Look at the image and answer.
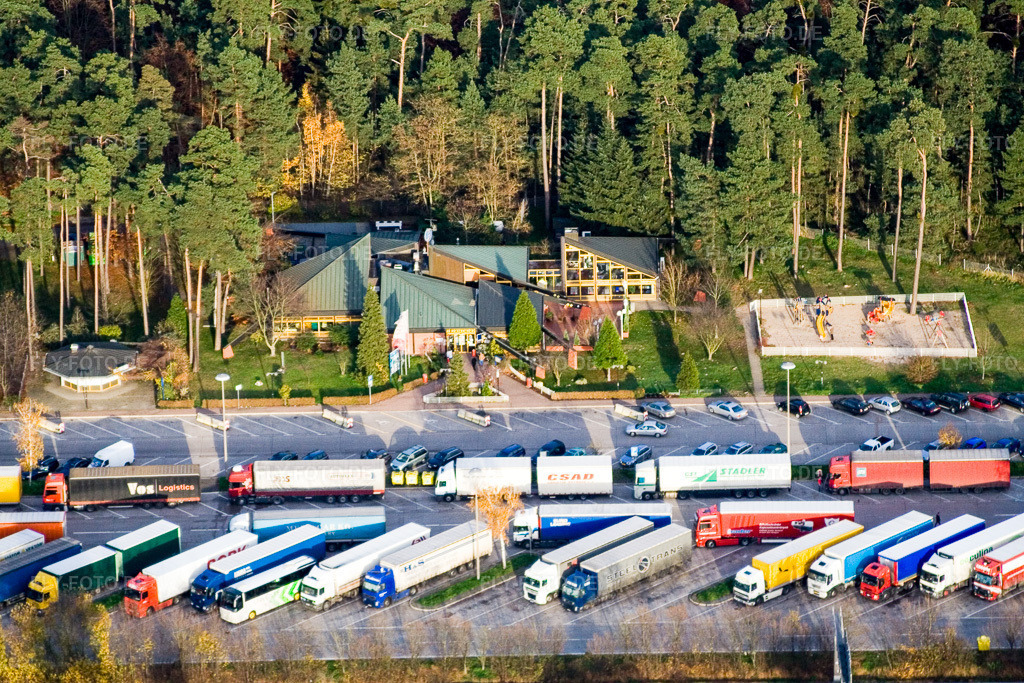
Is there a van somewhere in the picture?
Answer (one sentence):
Yes, the photo shows a van.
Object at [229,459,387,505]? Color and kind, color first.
white truck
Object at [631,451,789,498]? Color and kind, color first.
white truck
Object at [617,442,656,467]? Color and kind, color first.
blue car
